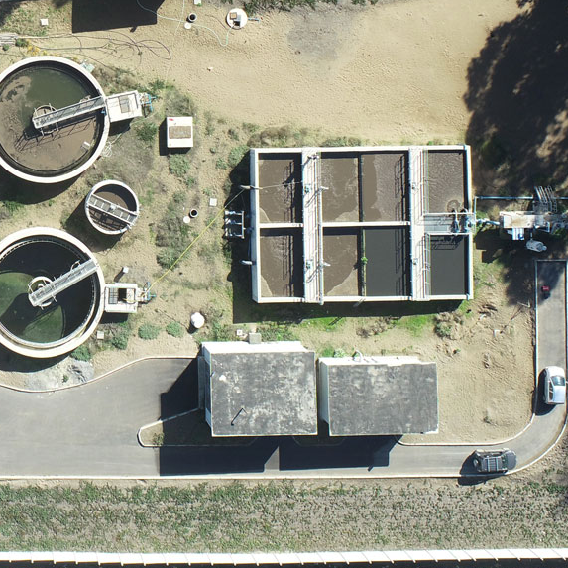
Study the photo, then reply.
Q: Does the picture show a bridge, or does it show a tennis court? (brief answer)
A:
bridge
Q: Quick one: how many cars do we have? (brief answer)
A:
two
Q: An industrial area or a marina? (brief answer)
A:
industrial area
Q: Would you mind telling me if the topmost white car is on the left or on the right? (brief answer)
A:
right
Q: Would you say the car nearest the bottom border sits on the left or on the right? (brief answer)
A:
right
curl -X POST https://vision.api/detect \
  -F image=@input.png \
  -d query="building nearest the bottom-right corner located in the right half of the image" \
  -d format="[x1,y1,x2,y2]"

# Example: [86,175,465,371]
[319,353,438,439]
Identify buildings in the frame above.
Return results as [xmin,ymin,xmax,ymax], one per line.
[319,353,438,439]
[203,343,317,439]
